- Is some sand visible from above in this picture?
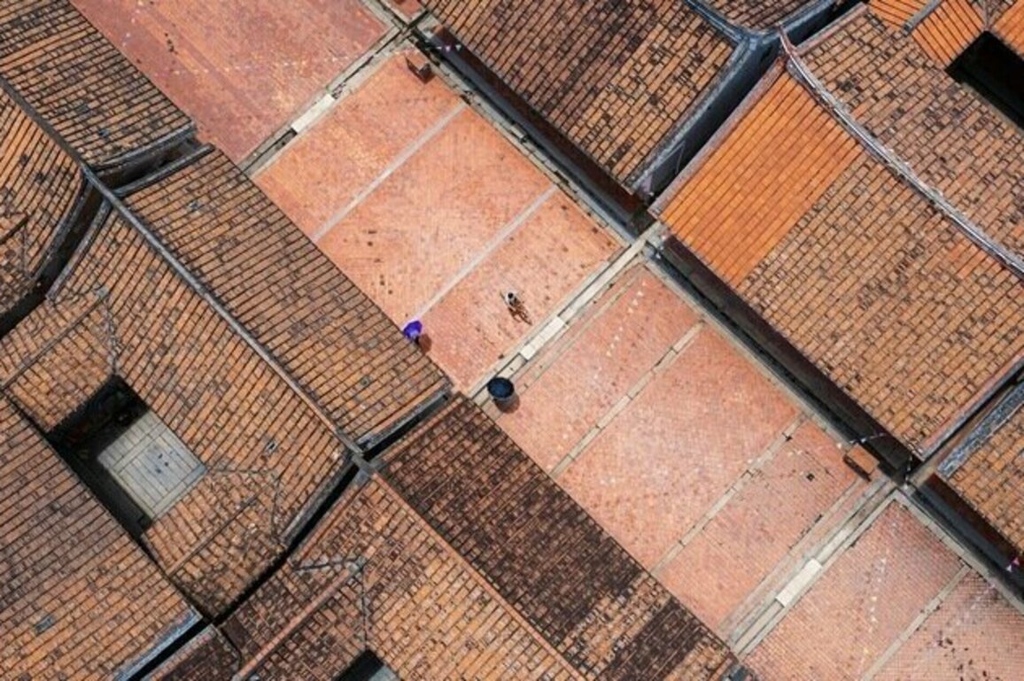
No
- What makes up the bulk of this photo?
buildings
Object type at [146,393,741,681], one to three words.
house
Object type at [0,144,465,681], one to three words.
house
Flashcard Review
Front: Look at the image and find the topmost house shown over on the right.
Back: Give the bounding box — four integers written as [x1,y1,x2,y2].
[418,0,829,211]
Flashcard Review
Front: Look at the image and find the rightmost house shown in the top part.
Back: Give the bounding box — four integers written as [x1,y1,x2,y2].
[648,0,1024,466]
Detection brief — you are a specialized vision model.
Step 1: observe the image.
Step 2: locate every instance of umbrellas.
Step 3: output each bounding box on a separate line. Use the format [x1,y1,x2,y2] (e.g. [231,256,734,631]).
[404,320,422,338]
